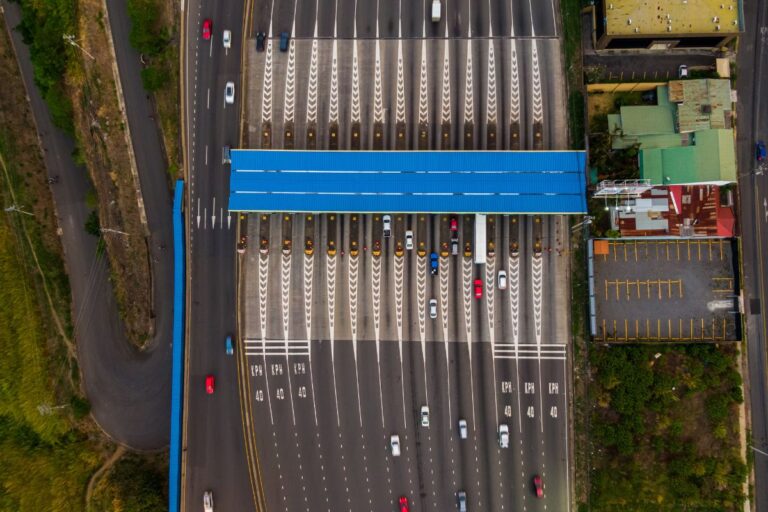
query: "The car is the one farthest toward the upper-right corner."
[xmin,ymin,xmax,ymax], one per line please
[677,64,689,80]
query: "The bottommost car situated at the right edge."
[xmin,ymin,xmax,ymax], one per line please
[754,142,766,161]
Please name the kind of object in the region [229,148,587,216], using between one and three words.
toll station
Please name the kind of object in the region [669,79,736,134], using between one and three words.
house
